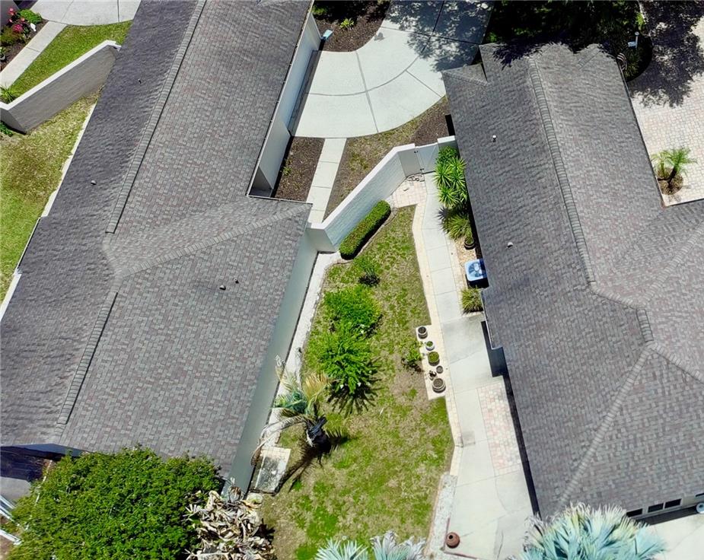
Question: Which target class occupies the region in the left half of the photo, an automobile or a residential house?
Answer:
residential house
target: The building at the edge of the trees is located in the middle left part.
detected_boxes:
[0,0,340,491]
